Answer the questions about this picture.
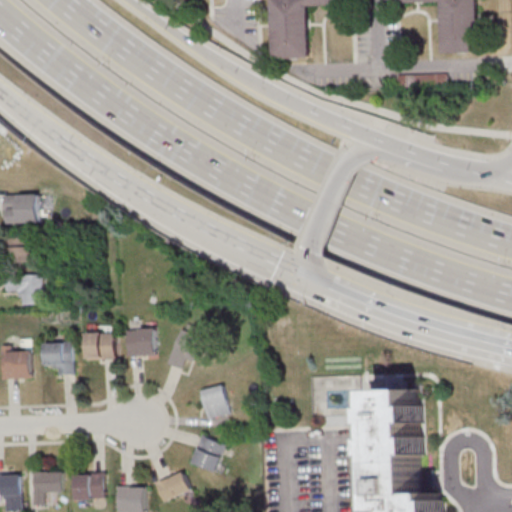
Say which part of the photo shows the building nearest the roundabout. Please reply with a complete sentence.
The building nearest the roundabout appears toward the bottom right of the photo.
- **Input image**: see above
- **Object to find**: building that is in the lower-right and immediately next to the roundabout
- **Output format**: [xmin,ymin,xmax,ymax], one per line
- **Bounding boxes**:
[346,388,445,512]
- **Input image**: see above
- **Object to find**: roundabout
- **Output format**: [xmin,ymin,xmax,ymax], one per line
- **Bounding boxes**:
[439,428,512,512]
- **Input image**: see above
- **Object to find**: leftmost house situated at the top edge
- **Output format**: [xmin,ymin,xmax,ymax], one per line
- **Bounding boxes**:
[268,0,336,59]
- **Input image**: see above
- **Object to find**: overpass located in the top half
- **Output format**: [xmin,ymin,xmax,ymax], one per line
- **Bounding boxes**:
[294,145,392,255]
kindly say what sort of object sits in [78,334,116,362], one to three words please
house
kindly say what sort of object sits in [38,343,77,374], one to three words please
house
